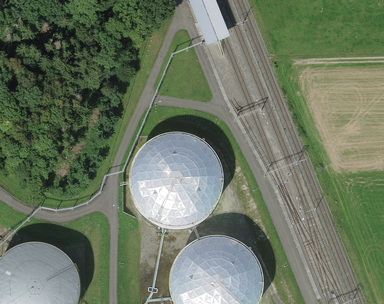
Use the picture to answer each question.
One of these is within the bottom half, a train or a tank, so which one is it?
tank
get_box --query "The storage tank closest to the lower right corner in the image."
[169,235,266,304]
